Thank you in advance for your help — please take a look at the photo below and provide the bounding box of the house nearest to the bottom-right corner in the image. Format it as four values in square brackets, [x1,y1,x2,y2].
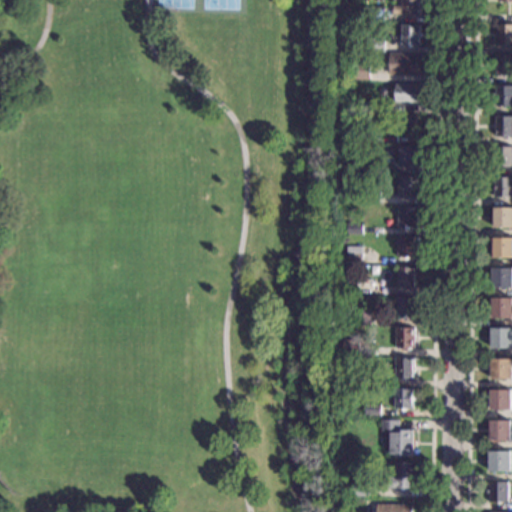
[496,482,510,506]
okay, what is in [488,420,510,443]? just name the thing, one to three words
house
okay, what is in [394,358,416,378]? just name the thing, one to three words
house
